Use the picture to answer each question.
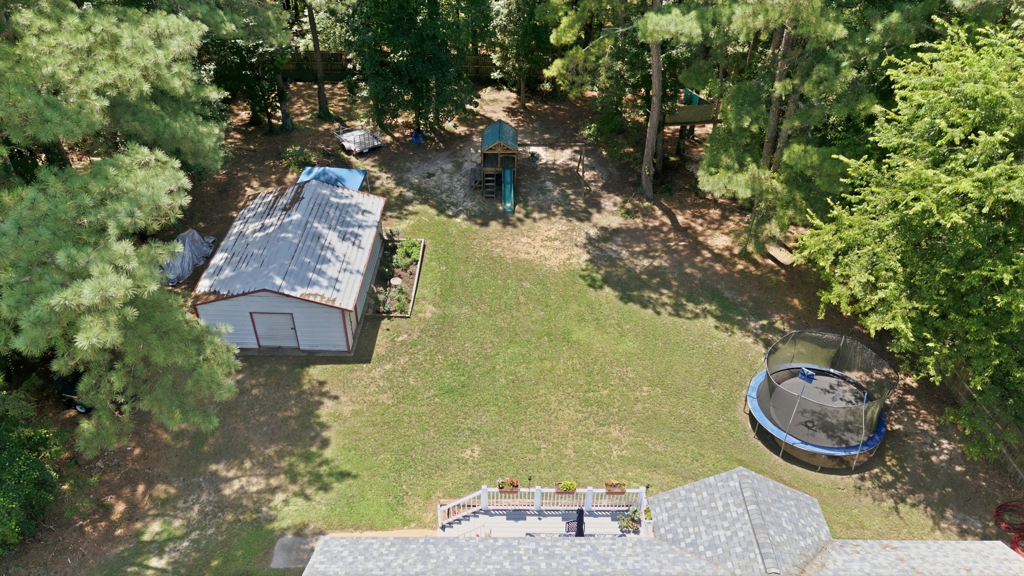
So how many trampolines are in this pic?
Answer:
1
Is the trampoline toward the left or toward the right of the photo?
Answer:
right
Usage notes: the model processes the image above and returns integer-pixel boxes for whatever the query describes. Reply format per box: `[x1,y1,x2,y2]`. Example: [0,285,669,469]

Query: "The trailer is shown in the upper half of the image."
[332,117,383,154]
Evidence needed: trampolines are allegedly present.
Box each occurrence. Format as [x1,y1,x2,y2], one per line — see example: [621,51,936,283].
[746,323,896,472]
